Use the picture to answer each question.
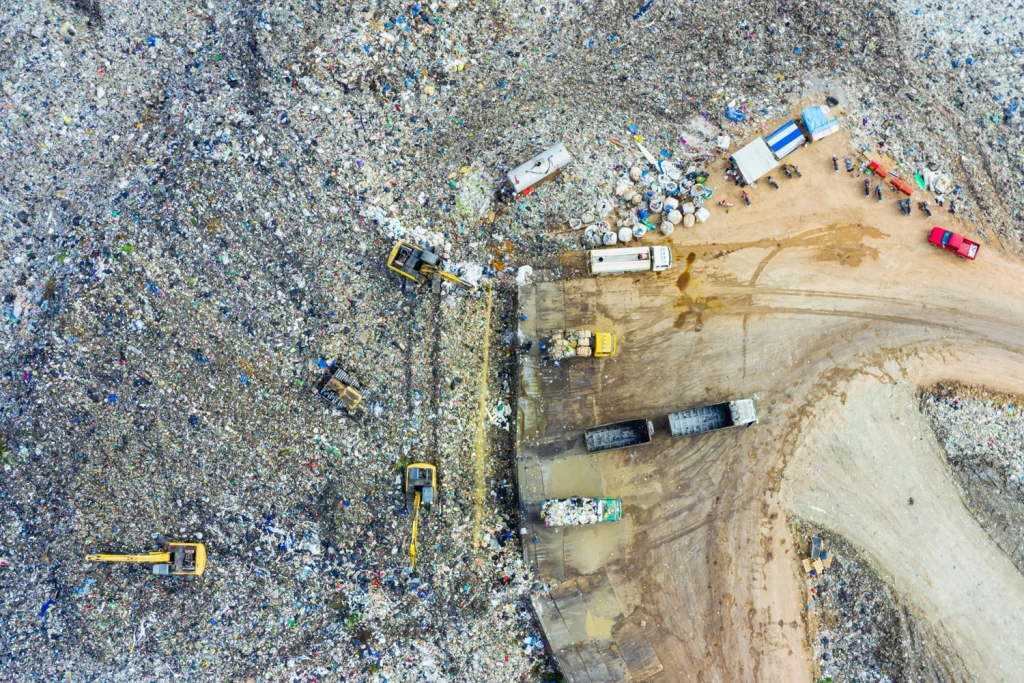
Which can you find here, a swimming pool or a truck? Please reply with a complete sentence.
Of the two, only a truck appears.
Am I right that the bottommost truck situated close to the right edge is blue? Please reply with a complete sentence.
No, the color of the bottommost truck situated close to the right edge is red.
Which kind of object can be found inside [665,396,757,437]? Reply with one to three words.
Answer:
truck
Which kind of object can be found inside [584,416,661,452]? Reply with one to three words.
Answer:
trailer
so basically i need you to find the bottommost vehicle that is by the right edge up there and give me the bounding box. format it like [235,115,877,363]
[923,226,981,260]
